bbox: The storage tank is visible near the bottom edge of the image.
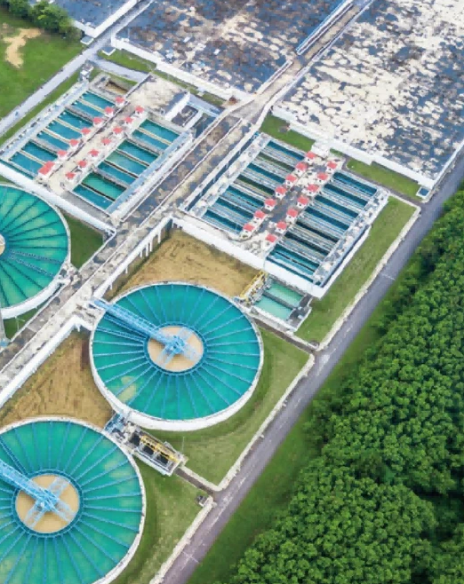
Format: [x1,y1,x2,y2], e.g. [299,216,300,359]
[0,415,147,584]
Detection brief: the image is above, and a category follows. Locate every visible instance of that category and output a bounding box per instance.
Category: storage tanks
[88,277,265,431]
[0,415,147,584]
[0,180,72,319]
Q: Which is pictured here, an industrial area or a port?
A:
industrial area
